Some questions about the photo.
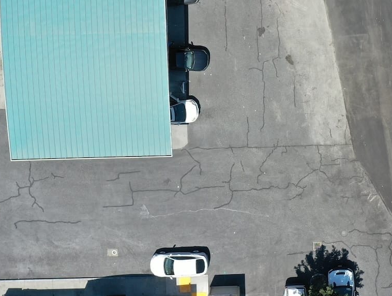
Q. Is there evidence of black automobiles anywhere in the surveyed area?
Yes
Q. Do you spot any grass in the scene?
No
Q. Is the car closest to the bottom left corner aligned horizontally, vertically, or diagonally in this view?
horizontally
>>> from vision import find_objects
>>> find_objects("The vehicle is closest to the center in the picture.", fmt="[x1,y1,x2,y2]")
[170,92,200,126]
